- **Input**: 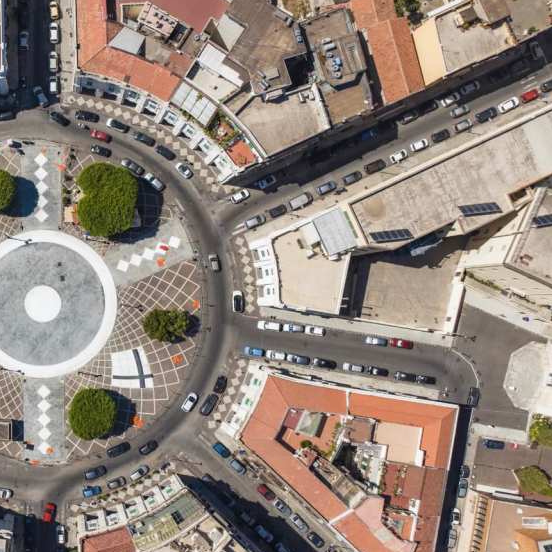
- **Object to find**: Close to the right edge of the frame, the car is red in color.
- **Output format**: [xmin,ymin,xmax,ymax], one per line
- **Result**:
[518,88,539,103]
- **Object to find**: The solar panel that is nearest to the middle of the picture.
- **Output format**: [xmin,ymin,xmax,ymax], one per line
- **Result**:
[371,228,413,242]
